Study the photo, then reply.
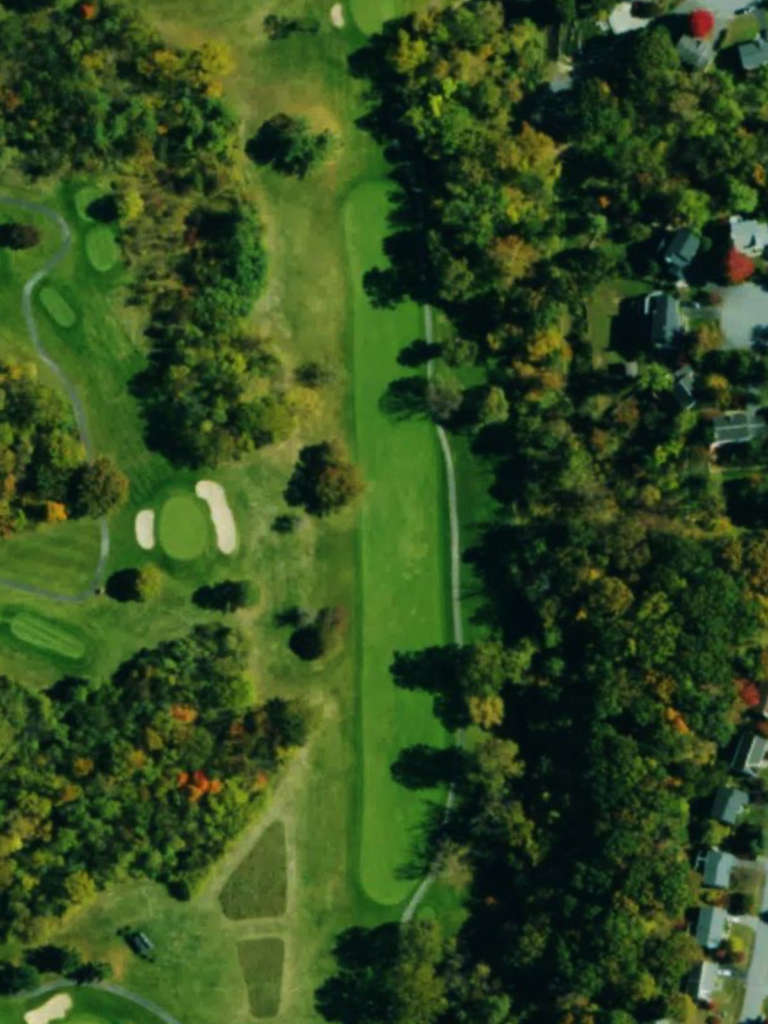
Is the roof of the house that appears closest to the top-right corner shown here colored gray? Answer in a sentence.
No, the roof of the house that appears closest to the top-right corner is actually green.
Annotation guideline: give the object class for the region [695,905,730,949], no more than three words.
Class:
house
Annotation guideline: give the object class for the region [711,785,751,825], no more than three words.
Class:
house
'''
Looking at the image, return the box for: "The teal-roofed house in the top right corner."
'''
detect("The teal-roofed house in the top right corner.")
[738,36,768,68]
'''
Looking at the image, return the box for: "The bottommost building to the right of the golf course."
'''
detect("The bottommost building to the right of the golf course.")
[687,962,722,1003]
